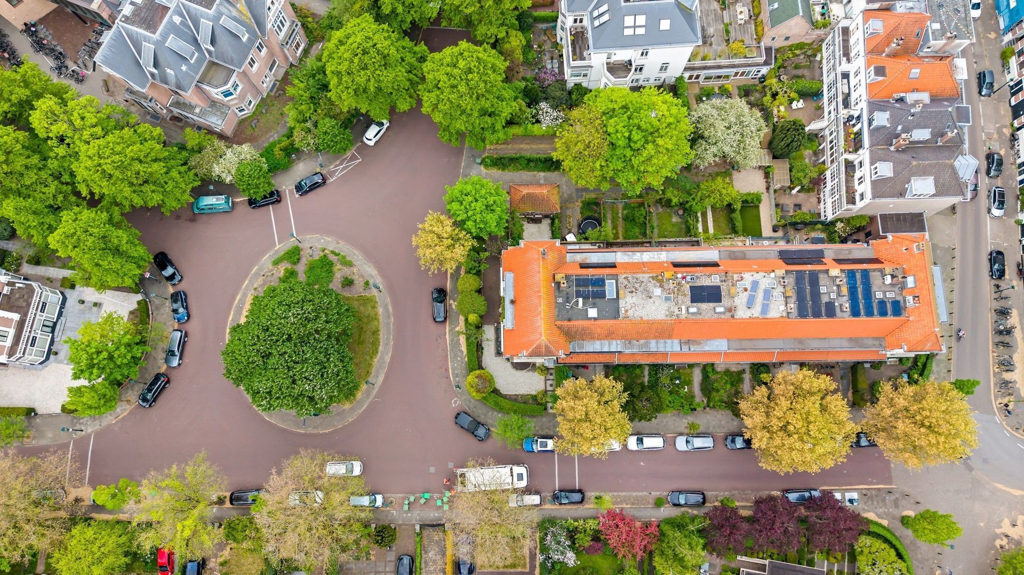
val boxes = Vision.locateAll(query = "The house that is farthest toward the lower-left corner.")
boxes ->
[0,269,77,371]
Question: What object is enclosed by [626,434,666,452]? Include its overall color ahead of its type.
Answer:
white car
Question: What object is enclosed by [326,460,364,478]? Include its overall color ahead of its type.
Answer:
white car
